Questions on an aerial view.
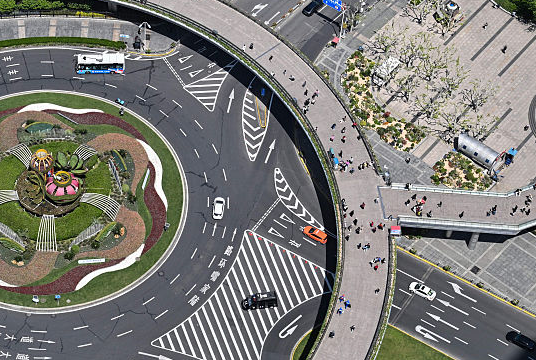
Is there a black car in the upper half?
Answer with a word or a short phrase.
Yes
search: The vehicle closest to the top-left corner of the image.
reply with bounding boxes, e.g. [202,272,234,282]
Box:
[72,55,125,76]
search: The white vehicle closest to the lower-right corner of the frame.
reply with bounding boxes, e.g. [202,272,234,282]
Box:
[408,281,437,301]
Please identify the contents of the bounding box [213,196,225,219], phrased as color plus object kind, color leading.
white vehicle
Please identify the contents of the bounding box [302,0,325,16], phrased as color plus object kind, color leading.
black car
